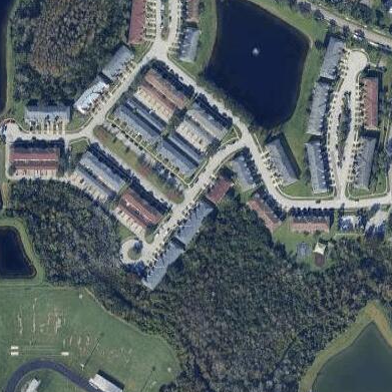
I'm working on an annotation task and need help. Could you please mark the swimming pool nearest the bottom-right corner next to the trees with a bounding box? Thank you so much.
[341,216,356,230]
